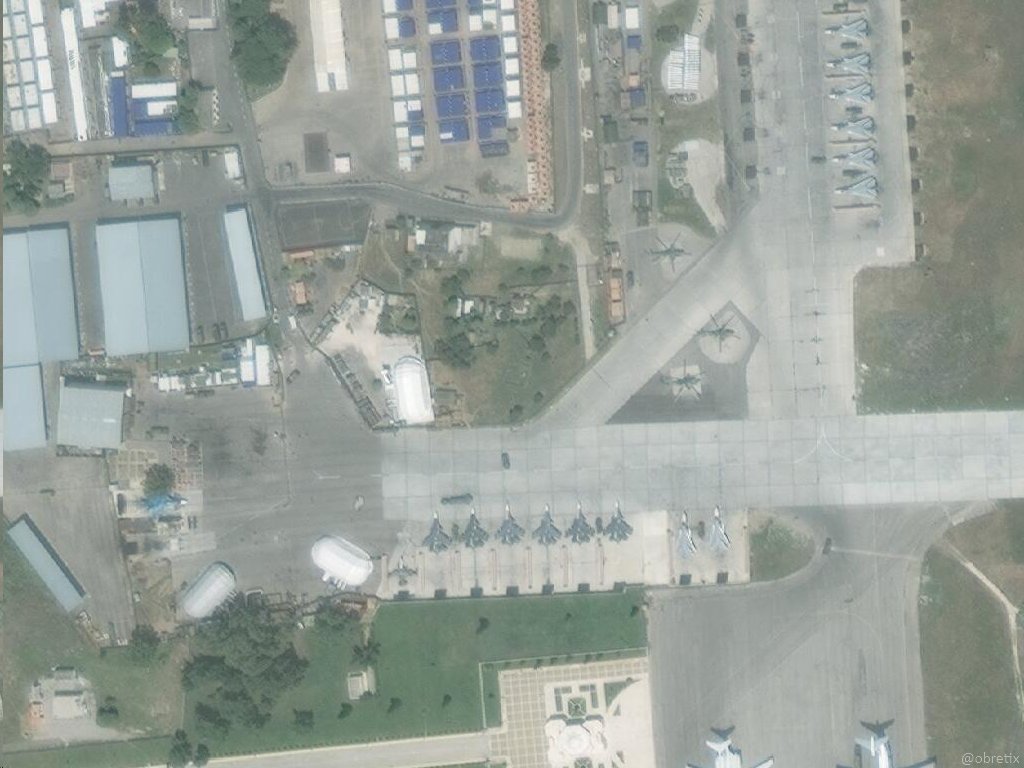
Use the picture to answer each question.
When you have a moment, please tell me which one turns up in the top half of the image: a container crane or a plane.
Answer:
plane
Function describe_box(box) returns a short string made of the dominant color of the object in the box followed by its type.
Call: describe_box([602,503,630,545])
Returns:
gray airplane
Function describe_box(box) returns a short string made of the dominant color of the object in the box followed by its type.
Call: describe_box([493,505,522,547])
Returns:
gray airplane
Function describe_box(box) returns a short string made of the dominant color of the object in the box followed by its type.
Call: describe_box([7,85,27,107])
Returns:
white tent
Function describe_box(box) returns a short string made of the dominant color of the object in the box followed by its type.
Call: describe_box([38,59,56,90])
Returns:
white tent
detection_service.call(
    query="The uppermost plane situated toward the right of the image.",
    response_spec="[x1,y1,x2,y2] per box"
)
[823,20,866,42]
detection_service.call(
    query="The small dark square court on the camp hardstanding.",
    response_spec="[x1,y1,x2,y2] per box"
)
[304,132,329,173]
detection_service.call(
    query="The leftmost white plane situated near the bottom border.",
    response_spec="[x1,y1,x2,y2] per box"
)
[685,734,737,768]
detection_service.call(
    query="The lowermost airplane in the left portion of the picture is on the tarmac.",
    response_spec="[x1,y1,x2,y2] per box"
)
[388,558,416,588]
